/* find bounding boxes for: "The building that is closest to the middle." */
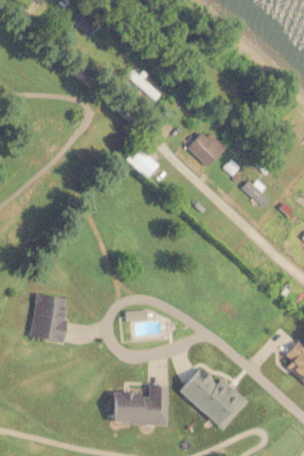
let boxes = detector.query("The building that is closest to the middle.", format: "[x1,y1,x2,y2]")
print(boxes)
[125,147,162,180]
